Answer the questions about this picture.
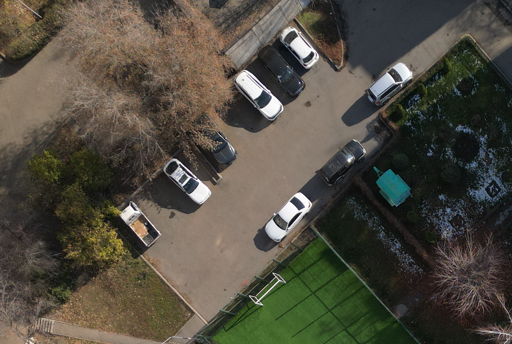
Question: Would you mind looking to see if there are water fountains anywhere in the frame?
No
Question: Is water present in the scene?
No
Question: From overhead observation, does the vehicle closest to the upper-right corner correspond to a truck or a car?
car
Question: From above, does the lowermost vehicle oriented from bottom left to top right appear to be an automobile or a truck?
automobile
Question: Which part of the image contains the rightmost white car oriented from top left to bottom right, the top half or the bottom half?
top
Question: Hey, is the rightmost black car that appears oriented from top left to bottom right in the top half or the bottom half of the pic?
top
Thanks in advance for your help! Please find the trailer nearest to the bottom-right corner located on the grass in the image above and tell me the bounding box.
[376,168,411,207]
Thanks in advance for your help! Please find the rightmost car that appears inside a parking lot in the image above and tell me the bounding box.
[364,59,415,109]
